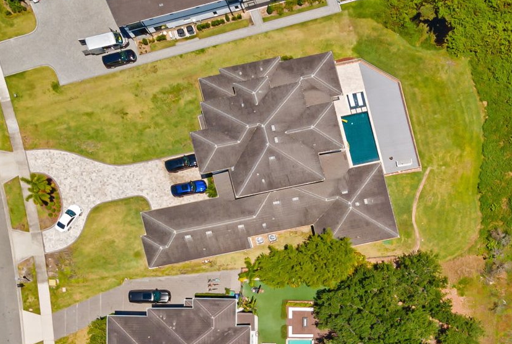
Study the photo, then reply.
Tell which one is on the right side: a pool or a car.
pool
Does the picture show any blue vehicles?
Yes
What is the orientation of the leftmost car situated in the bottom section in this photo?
at an angle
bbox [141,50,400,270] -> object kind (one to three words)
house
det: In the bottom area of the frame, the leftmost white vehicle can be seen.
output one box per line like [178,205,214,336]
[52,202,85,235]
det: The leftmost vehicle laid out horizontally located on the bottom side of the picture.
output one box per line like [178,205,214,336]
[129,286,170,305]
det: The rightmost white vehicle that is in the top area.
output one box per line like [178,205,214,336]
[74,30,126,53]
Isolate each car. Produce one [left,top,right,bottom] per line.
[52,202,85,235]
[129,286,170,305]
[170,180,207,197]
[163,153,198,173]
[101,47,138,68]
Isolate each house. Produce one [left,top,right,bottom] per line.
[141,50,400,270]
[105,298,261,344]
[104,0,244,36]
